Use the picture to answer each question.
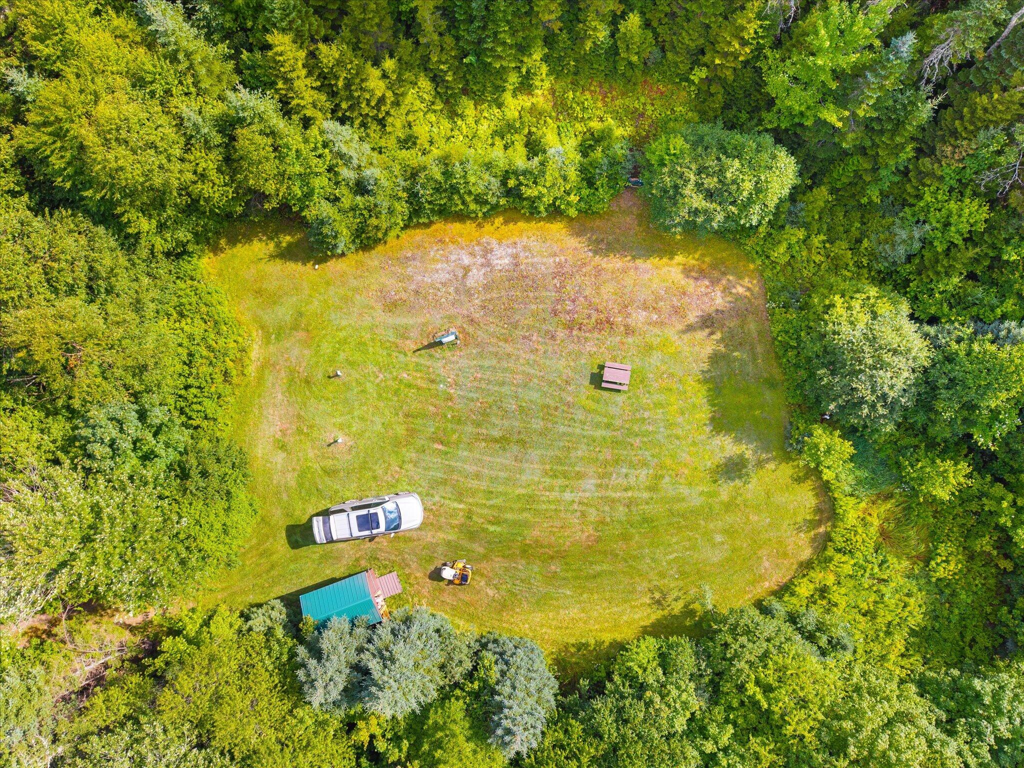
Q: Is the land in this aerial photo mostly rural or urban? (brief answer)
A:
rural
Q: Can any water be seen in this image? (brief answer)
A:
No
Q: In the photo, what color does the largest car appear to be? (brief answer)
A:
white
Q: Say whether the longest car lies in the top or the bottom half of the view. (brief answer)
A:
bottom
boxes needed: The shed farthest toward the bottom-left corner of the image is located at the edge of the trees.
[298,567,403,643]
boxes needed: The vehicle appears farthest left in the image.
[313,490,427,543]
